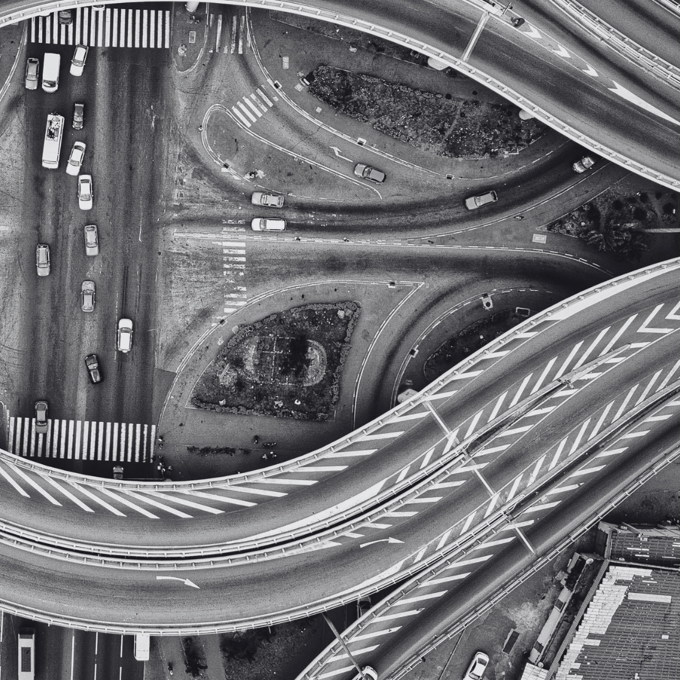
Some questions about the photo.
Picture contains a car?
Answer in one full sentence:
Yes, this view includes a car.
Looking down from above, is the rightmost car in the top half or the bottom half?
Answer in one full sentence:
You can find the rightmost car in the top half.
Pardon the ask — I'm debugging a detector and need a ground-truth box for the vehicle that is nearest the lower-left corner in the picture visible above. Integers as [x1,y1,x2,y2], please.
[18,626,36,680]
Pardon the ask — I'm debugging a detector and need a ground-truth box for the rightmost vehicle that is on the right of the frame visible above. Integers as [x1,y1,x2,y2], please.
[569,152,601,174]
